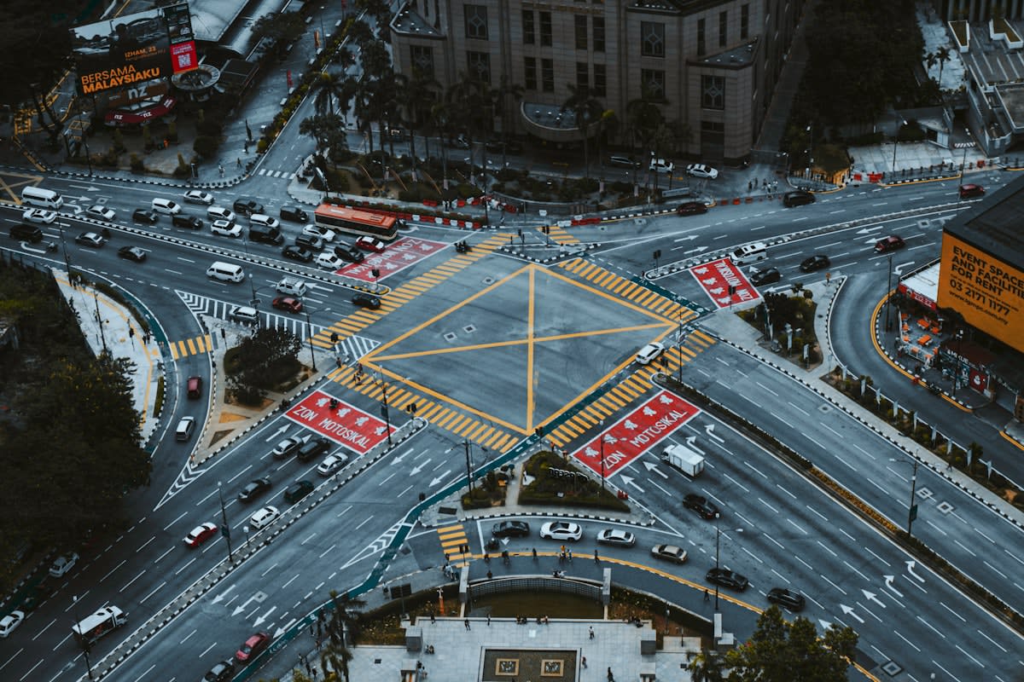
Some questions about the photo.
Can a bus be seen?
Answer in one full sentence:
Yes, the frame does contain a bus.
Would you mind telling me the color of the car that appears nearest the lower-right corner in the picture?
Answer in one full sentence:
From above, the car that appears nearest the lower-right corner appears black.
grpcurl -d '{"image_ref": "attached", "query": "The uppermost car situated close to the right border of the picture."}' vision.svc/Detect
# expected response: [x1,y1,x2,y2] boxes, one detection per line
[953,185,989,200]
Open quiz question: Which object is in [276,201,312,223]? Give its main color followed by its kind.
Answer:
black vehicle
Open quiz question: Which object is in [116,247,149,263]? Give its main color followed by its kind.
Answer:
black car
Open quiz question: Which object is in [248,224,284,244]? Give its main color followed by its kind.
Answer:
black car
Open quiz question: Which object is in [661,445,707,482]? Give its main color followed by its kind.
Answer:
white truck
